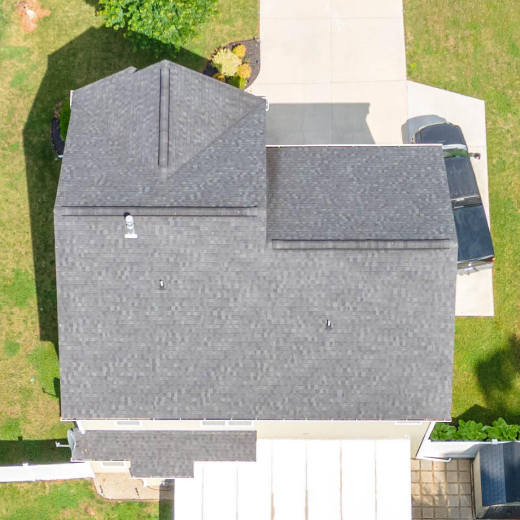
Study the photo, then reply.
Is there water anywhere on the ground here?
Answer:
No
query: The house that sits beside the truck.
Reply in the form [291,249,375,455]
[55,60,460,494]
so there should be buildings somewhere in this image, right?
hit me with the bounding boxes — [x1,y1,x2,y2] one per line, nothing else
[470,441,520,518]
[55,60,460,494]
